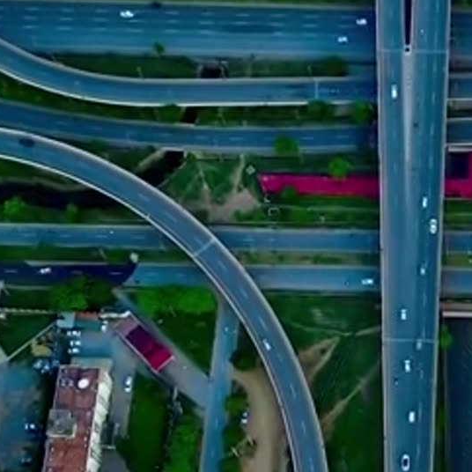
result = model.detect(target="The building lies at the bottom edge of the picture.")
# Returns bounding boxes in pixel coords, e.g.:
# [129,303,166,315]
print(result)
[42,358,113,472]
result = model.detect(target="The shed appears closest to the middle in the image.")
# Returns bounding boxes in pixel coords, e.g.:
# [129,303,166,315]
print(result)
[125,322,175,372]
